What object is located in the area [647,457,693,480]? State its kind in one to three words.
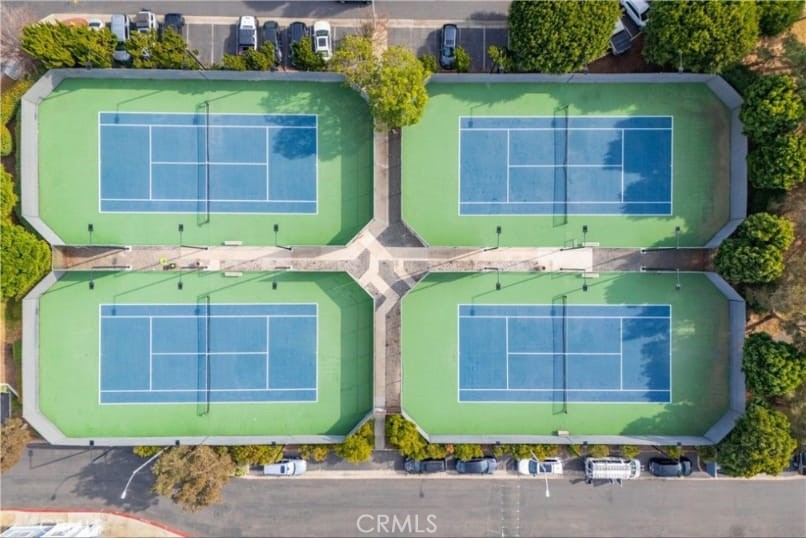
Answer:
car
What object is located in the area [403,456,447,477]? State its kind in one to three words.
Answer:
truck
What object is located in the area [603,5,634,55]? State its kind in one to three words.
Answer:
truck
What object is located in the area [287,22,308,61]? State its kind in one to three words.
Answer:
car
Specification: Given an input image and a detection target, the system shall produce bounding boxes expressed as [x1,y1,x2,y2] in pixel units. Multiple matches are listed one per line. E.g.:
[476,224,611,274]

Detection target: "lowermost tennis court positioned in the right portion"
[402,272,730,436]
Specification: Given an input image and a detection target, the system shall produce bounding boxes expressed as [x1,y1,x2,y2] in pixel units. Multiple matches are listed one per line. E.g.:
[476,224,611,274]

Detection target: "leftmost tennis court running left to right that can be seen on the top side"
[39,80,372,246]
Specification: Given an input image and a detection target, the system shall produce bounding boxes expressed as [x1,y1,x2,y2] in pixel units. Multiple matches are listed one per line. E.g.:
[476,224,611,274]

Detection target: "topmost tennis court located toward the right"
[402,82,731,247]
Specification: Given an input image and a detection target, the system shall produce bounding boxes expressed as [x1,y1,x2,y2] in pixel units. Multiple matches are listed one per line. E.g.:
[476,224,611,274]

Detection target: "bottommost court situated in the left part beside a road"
[39,271,372,436]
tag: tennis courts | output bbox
[39,271,372,436]
[402,82,731,247]
[39,80,372,246]
[402,272,730,436]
